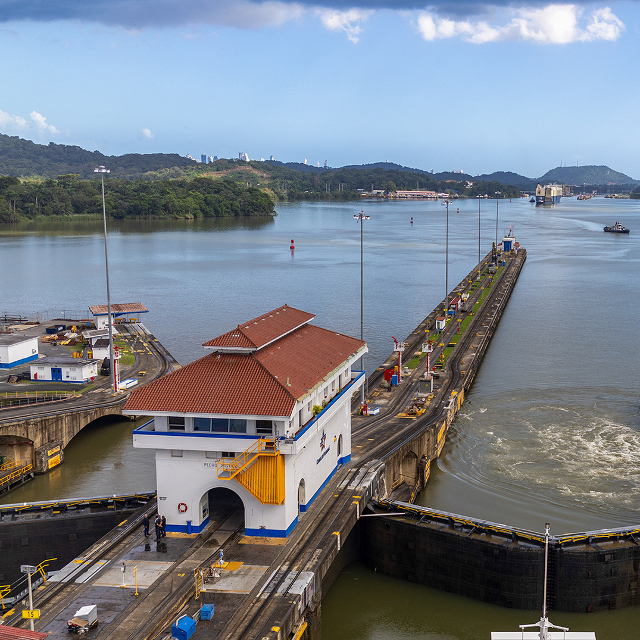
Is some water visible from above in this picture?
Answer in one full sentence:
Yes, some water is visible.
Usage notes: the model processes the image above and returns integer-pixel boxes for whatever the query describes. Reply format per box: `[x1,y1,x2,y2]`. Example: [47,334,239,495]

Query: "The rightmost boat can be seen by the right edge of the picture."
[602,217,630,232]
